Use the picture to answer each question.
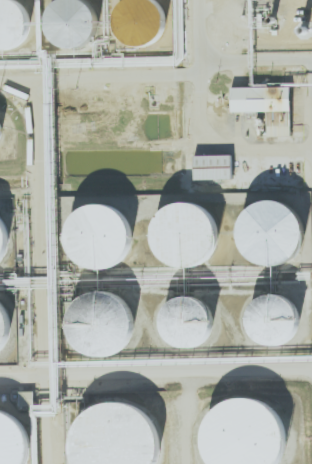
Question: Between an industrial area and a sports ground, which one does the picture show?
industrial area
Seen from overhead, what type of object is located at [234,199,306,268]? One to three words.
storage tank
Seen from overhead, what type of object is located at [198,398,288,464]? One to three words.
storage tank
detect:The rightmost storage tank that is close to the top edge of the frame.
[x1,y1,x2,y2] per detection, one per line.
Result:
[110,0,168,50]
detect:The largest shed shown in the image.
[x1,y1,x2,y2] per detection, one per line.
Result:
[230,86,290,112]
